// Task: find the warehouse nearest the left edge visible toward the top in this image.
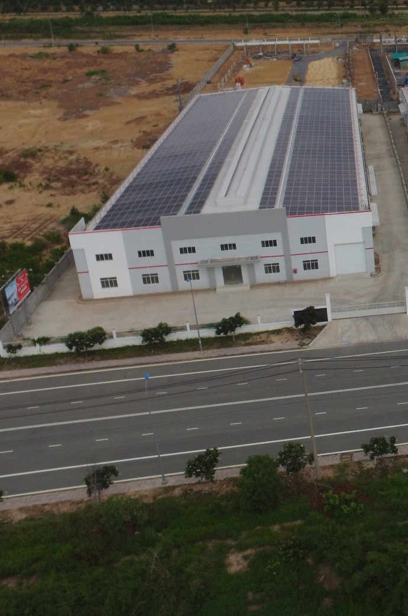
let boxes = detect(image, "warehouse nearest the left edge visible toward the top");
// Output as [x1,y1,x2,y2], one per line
[68,82,387,298]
